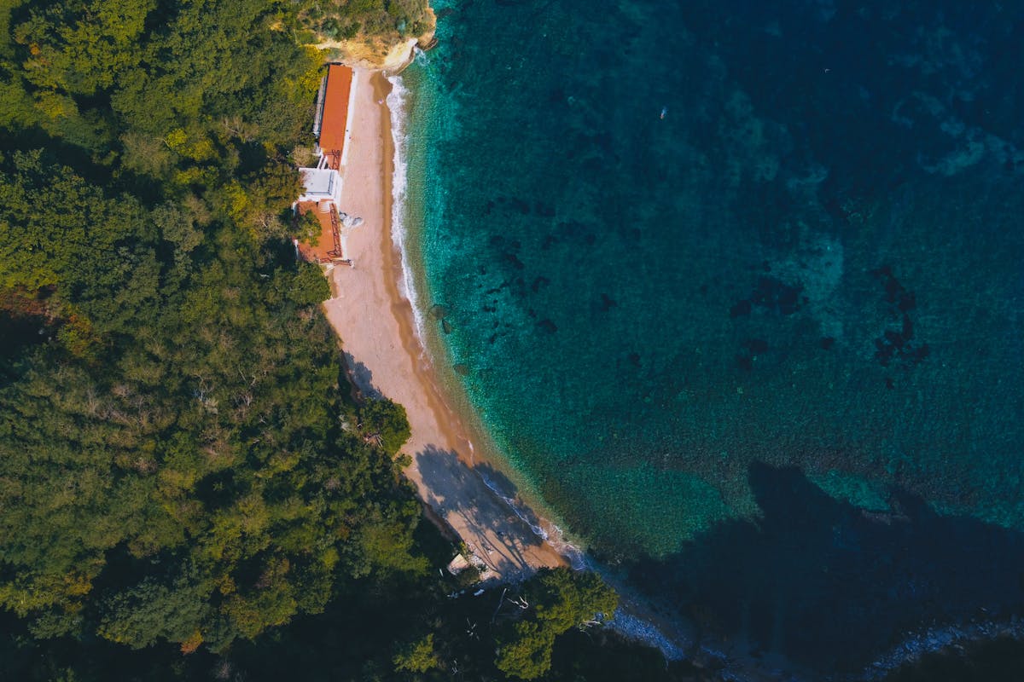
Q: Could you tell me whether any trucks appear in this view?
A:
No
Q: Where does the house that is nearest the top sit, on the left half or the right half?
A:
left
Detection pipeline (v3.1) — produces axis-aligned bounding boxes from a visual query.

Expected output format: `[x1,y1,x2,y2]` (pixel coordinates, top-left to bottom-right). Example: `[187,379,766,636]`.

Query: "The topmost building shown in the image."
[319,64,353,148]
